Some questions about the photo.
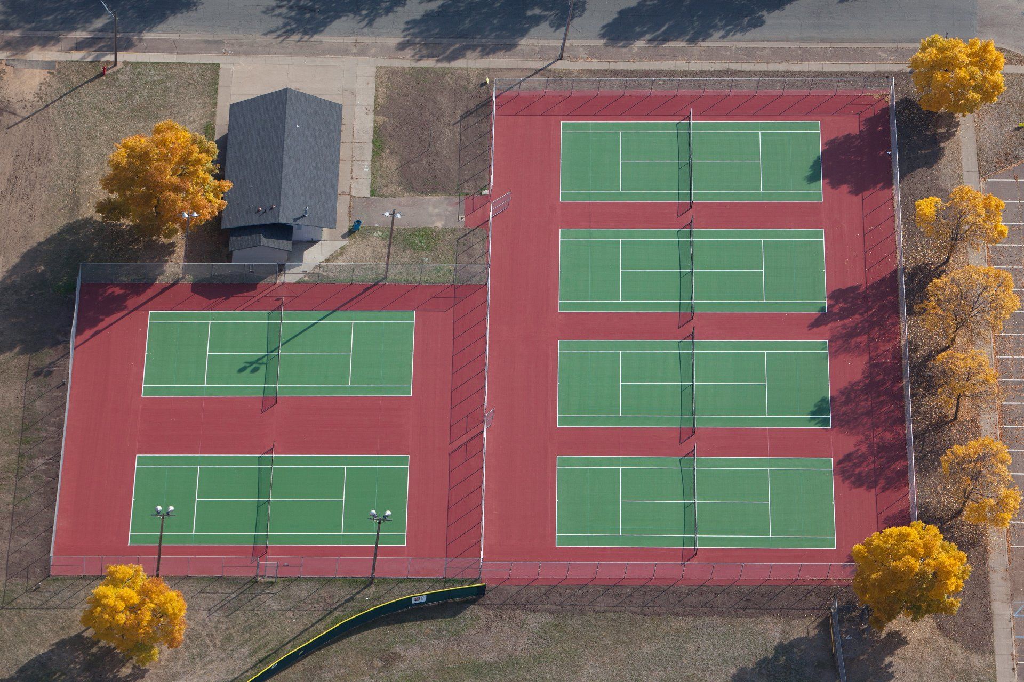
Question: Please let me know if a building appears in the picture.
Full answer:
Yes, the photo shows a building.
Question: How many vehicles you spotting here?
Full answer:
I count no vehicles.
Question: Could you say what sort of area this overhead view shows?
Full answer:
It's a sports ground.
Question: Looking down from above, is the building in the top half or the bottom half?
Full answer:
You can find the building in the top half.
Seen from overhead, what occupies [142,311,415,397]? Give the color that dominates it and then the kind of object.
green tennis court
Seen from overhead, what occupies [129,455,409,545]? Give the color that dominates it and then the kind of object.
green tennis court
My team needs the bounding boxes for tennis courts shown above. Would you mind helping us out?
[559,228,826,312]
[142,311,415,397]
[557,457,835,548]
[558,340,831,427]
[129,455,409,545]
[561,121,823,201]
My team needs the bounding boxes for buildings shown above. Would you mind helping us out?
[221,87,343,271]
